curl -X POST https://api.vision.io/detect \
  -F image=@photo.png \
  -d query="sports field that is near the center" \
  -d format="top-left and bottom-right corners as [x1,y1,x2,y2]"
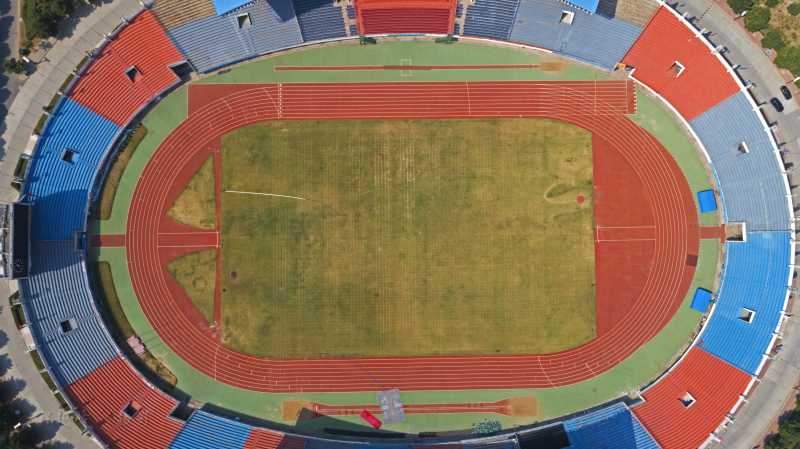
[220,119,595,358]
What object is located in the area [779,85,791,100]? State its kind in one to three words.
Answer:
vehicle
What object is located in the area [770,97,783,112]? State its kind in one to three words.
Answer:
vehicle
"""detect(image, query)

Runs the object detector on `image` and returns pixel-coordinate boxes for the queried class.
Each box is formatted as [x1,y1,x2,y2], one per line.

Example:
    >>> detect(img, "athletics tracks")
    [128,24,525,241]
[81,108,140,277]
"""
[91,80,722,393]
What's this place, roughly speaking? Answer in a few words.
sports ground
